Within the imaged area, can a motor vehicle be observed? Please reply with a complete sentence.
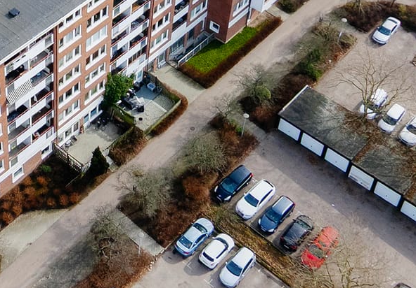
Yes, the image includes a motor vehicle.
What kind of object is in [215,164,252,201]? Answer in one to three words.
car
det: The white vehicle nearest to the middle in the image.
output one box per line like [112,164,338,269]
[238,178,274,218]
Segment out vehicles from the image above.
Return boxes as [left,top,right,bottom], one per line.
[279,215,314,250]
[199,232,235,269]
[175,217,213,256]
[378,103,407,133]
[215,164,252,201]
[220,246,254,287]
[373,14,401,42]
[238,178,274,218]
[303,228,338,264]
[259,193,295,232]
[401,115,416,143]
